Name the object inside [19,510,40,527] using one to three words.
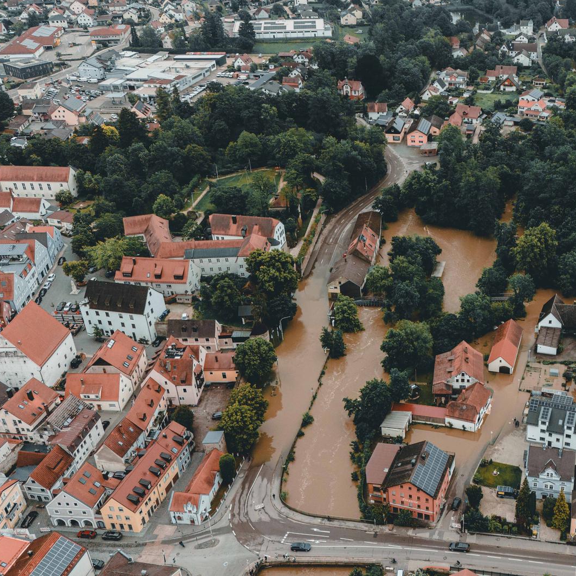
car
